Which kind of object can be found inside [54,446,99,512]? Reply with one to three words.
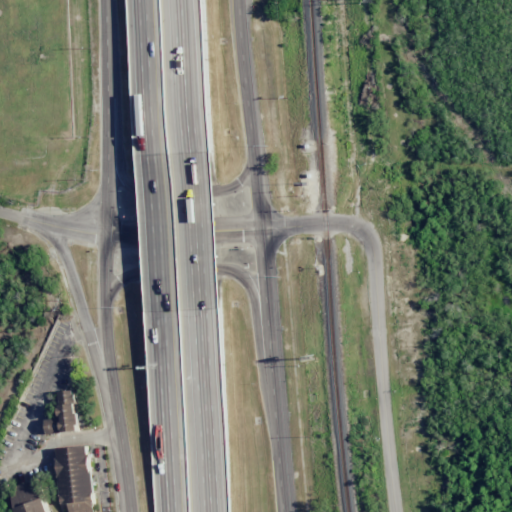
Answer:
building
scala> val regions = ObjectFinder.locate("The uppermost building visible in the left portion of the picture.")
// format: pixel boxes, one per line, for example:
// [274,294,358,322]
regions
[43,391,84,434]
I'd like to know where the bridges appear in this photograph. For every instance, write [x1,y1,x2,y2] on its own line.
[125,0,232,512]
